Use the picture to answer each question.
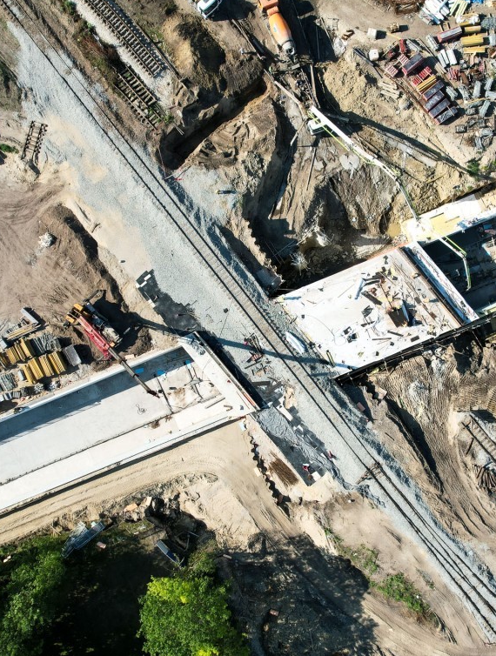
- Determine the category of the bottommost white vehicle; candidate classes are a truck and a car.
truck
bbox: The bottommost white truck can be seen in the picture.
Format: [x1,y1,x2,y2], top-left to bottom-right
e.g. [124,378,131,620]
[275,62,472,293]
